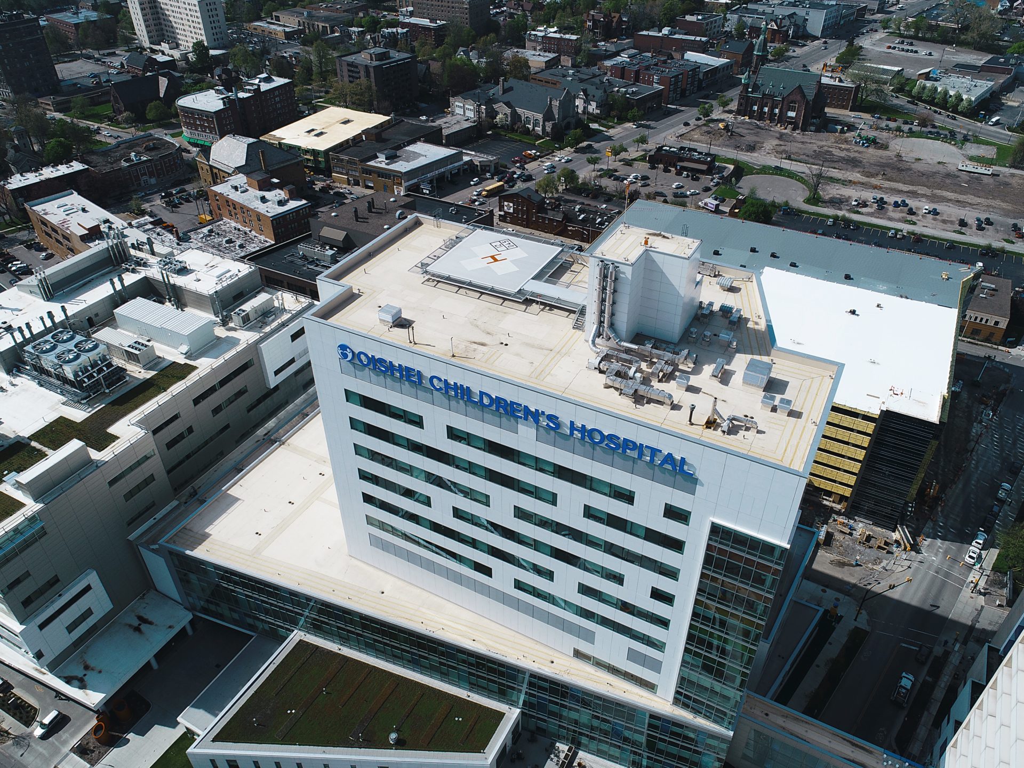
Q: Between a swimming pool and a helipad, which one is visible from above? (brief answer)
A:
helipad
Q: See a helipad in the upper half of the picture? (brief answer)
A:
Yes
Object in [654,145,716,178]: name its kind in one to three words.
building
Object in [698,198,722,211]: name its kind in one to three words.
vehicle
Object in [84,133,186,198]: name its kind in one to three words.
building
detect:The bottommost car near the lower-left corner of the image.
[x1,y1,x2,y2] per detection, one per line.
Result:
[30,705,66,739]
